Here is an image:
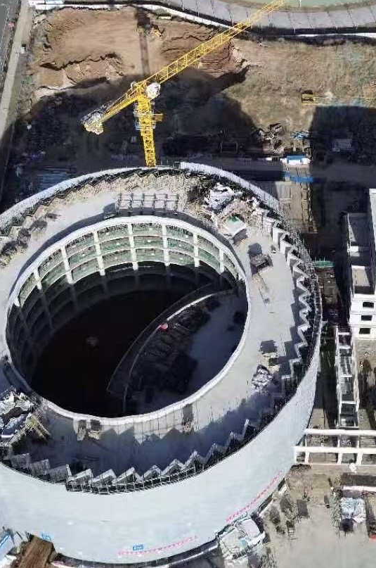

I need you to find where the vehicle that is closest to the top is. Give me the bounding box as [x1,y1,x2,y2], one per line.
[141,20,164,35]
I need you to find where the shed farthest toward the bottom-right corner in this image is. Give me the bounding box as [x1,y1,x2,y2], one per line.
[218,511,272,563]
